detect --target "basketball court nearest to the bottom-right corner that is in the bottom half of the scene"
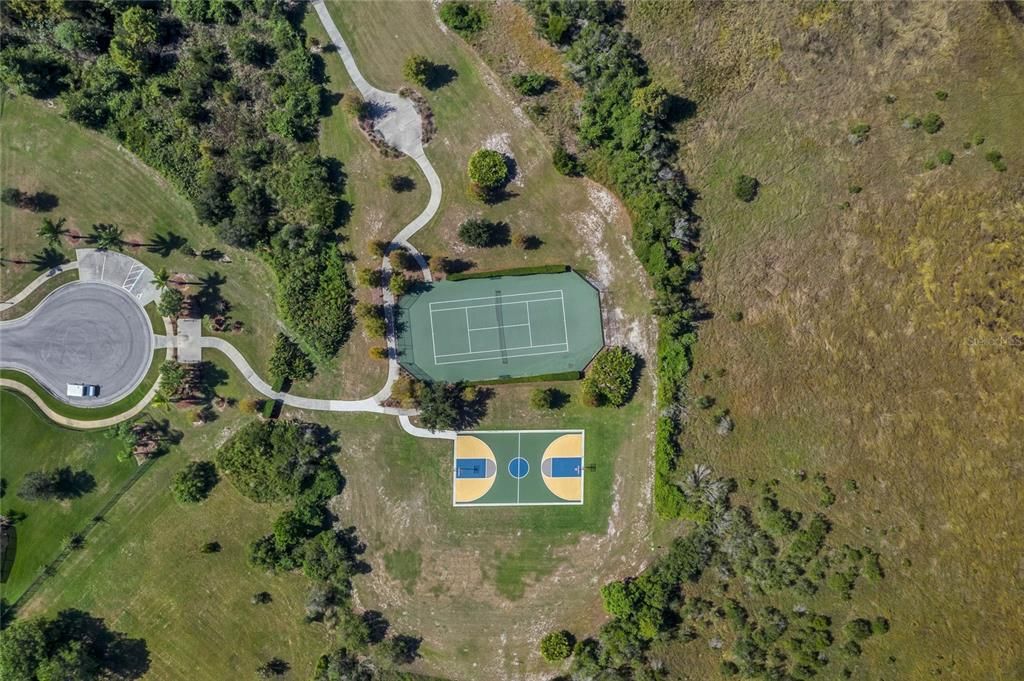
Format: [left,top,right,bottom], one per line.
[453,430,584,506]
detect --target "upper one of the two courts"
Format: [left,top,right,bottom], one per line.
[399,270,604,385]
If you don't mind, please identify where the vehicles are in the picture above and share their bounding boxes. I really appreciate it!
[67,384,99,398]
